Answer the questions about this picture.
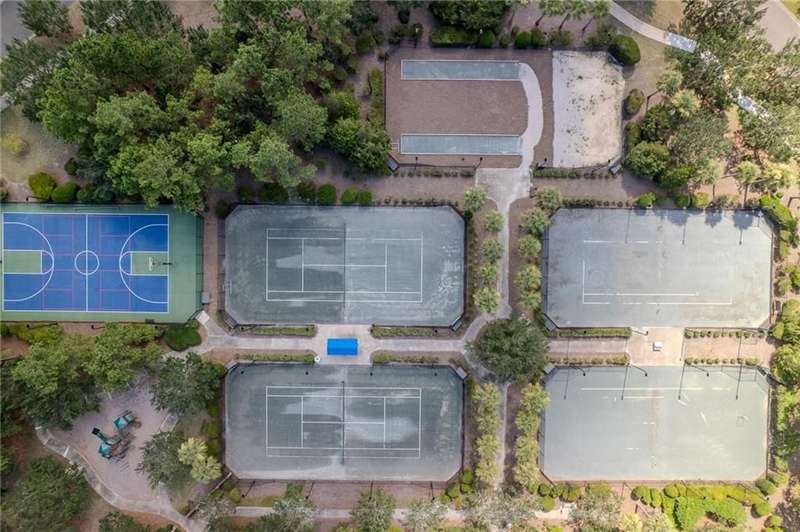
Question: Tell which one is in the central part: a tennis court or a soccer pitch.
tennis court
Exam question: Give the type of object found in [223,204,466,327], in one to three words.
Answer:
tennis court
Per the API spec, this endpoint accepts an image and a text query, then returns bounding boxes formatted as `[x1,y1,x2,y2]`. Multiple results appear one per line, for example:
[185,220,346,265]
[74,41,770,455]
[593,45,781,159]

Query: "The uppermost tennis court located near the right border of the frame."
[544,207,773,328]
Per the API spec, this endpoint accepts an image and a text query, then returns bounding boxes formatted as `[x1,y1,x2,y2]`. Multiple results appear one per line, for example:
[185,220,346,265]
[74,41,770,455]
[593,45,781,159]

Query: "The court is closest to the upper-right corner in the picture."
[553,50,623,167]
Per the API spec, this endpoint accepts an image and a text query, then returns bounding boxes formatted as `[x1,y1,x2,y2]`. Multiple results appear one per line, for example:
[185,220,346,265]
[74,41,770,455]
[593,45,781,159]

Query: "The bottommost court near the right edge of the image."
[540,365,771,482]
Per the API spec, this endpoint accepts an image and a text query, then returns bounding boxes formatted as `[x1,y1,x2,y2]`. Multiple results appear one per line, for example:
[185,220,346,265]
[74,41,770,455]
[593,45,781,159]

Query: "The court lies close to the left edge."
[0,203,203,323]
